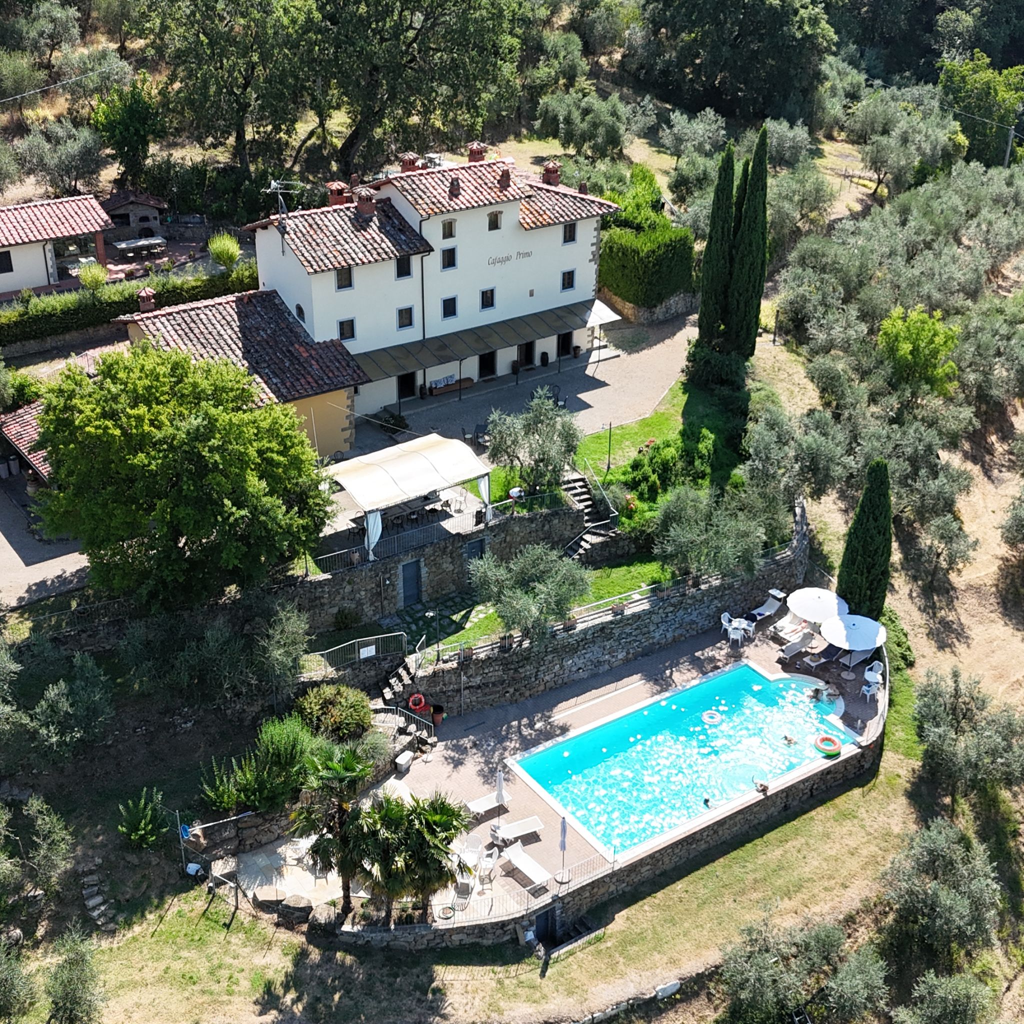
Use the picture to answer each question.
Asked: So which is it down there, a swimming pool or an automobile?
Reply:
swimming pool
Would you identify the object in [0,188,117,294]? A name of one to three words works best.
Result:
building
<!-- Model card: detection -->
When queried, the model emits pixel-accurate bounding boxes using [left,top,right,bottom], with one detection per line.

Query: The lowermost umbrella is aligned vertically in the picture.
[555,822,571,883]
